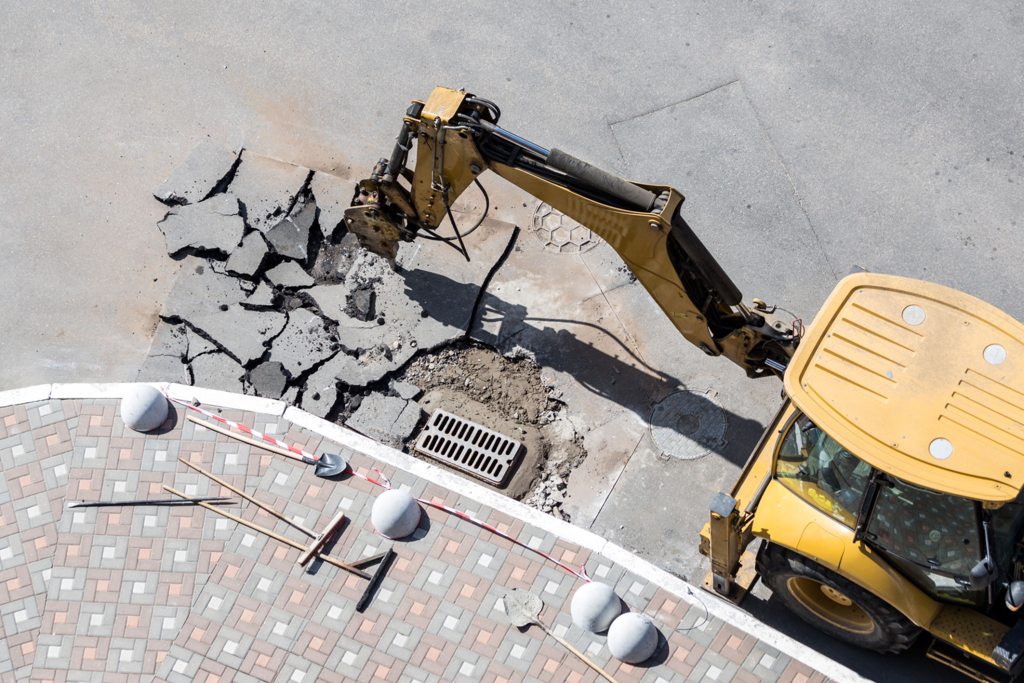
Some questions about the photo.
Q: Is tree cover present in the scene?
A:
No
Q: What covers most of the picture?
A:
paved ground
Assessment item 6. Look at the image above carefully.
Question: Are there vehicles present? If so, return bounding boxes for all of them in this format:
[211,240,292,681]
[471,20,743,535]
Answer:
[345,85,1024,683]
